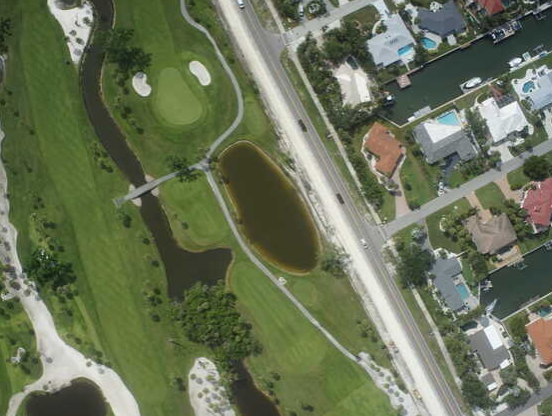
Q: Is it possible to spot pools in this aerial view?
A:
Yes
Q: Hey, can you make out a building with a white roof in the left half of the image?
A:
No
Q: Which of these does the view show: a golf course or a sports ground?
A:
golf course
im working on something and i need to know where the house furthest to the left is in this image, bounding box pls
[338,64,375,103]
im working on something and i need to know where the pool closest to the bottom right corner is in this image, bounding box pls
[529,304,552,323]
